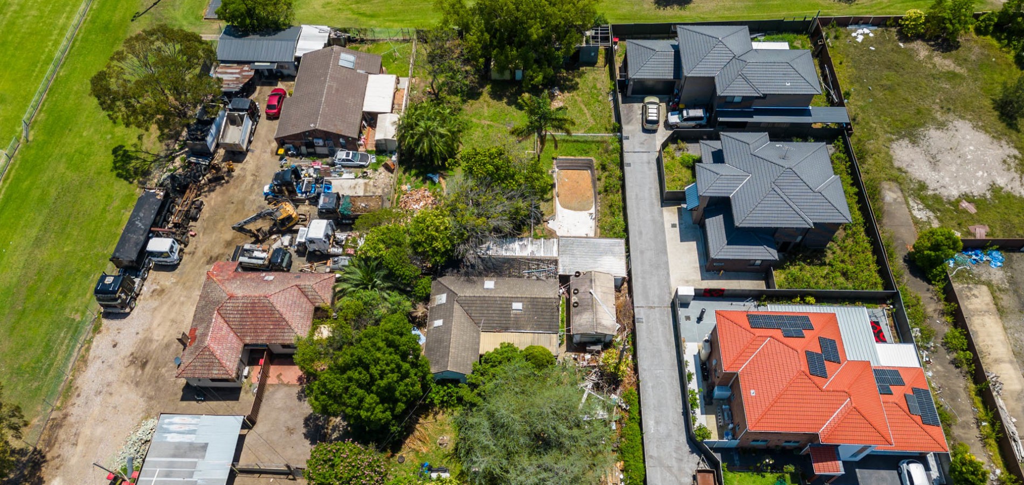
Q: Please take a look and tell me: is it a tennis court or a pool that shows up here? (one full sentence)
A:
Looking from above, you can make out a pool.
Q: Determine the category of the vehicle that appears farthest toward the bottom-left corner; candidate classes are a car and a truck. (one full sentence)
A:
From above, the vehicle that appears farthest toward the bottom-left corner can be identified as a truck.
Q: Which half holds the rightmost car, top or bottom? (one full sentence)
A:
You can find the rightmost car in the bottom half.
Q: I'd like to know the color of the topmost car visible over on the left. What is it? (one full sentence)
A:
The color of the topmost car visible over on the left is red.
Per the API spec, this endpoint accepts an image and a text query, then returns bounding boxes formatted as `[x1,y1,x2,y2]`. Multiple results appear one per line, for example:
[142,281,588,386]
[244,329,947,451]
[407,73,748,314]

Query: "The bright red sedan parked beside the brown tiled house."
[264,86,287,117]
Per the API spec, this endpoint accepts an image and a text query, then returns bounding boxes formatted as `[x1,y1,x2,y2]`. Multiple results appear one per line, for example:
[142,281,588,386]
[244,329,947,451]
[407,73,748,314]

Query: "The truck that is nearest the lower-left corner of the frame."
[90,254,152,316]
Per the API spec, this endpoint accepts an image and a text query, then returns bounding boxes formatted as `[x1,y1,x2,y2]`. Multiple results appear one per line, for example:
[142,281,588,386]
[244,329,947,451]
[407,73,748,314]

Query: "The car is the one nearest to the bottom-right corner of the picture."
[901,453,933,485]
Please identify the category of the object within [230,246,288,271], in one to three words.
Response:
truck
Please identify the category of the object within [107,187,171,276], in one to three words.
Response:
trailer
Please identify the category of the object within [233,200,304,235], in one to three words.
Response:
work vehicle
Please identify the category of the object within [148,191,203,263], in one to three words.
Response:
truck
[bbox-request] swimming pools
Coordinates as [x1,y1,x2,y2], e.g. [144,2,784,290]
[549,158,602,246]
